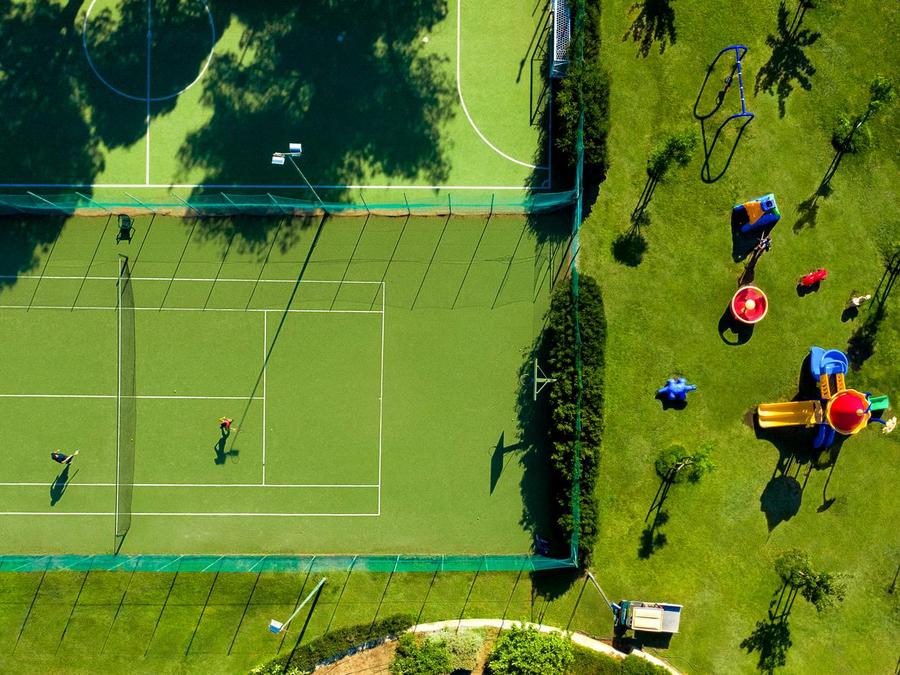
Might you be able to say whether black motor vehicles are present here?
No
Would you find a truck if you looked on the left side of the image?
No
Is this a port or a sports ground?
sports ground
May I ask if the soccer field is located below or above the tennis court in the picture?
above it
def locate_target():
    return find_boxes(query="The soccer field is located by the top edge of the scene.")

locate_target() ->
[0,0,555,208]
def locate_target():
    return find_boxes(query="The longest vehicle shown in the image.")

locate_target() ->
[613,601,686,640]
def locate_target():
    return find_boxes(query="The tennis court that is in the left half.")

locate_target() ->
[0,213,569,555]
